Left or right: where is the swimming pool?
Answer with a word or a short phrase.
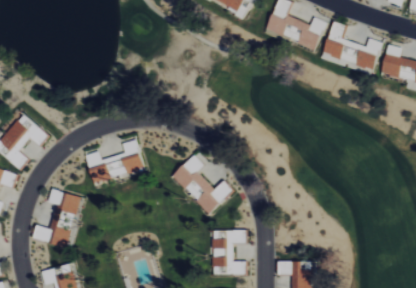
left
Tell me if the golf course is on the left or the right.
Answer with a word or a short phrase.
right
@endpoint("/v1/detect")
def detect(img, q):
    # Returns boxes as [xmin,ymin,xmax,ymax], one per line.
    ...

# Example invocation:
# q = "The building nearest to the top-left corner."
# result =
[0,110,50,170]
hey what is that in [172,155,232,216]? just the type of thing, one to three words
house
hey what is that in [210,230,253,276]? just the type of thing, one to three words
house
